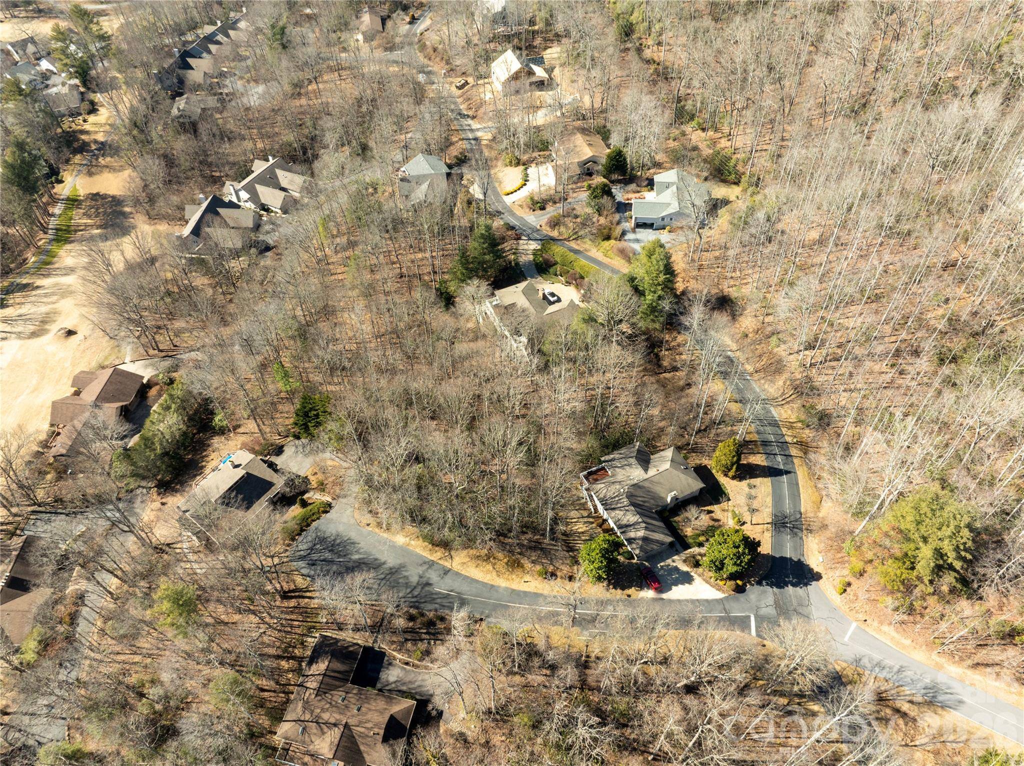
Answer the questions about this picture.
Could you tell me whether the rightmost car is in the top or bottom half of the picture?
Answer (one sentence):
The rightmost car sits in the bottom half of the picture.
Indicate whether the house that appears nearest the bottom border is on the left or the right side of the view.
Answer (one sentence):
The house that appears nearest the bottom border sits on the left side.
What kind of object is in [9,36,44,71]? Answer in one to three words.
house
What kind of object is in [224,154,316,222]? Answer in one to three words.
house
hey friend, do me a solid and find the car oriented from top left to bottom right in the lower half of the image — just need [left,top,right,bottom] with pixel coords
[638,564,663,591]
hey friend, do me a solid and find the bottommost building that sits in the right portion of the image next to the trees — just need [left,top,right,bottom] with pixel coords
[579,442,705,567]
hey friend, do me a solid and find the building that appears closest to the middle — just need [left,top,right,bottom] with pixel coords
[475,280,577,366]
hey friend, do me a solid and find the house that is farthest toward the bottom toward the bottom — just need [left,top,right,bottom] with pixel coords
[271,634,416,766]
